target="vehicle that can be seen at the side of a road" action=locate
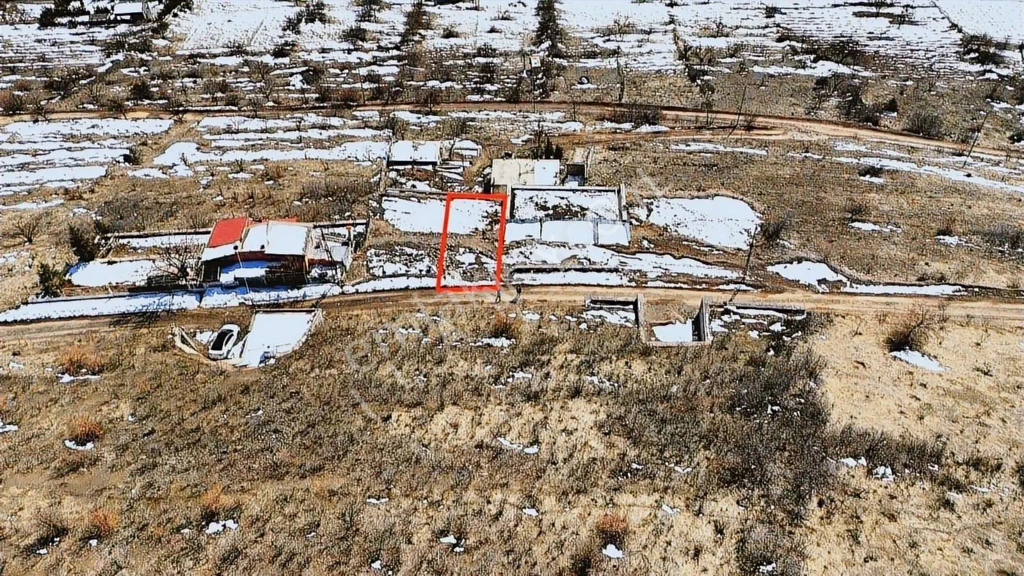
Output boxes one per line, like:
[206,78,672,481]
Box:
[203,324,239,361]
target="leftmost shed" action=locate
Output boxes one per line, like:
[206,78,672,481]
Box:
[114,2,146,24]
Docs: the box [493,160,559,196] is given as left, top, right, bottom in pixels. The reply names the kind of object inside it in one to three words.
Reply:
building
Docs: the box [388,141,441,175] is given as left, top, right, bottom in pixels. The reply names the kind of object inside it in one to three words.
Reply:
shed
